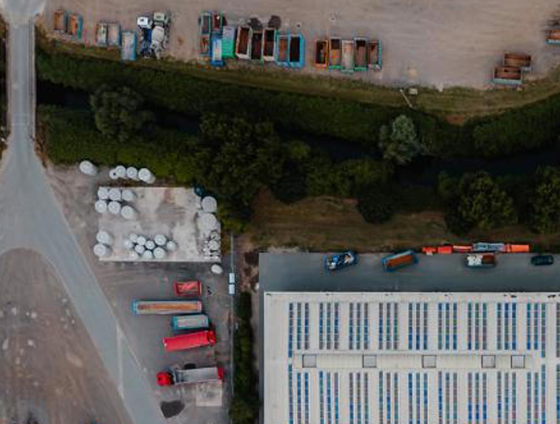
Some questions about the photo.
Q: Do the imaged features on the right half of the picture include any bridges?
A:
No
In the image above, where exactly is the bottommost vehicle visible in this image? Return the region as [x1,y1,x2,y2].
[159,365,227,384]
